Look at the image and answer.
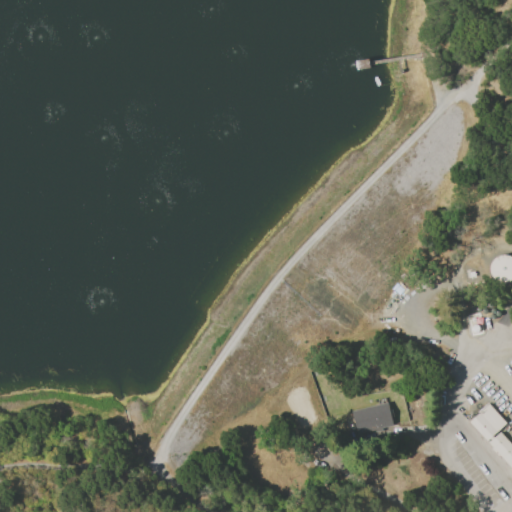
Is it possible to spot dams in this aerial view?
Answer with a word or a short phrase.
Yes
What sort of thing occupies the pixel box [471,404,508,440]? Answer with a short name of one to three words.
building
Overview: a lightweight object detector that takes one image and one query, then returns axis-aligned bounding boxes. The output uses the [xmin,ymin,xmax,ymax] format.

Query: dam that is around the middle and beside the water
[144,99,466,466]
